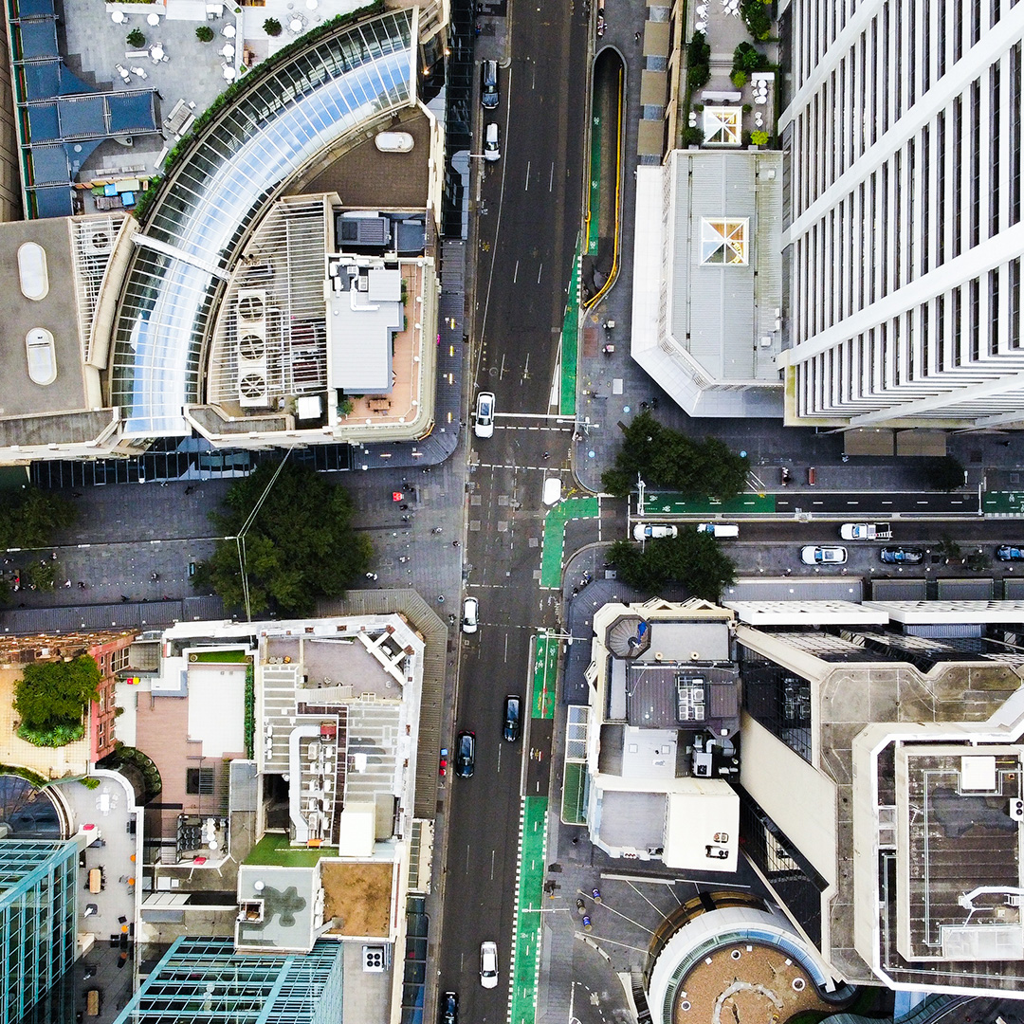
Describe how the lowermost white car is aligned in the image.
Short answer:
up and down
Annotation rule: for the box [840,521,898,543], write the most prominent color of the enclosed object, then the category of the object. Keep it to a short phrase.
white truck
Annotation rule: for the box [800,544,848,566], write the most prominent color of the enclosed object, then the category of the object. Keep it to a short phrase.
white car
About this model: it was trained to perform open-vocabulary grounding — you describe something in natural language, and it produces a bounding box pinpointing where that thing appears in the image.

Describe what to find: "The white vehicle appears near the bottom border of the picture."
[478,939,500,987]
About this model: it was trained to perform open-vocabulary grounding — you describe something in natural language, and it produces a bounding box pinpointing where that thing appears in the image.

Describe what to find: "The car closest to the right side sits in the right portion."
[993,542,1024,563]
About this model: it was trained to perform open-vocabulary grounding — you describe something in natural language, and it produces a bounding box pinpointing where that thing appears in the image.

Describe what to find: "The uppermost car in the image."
[479,60,501,110]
